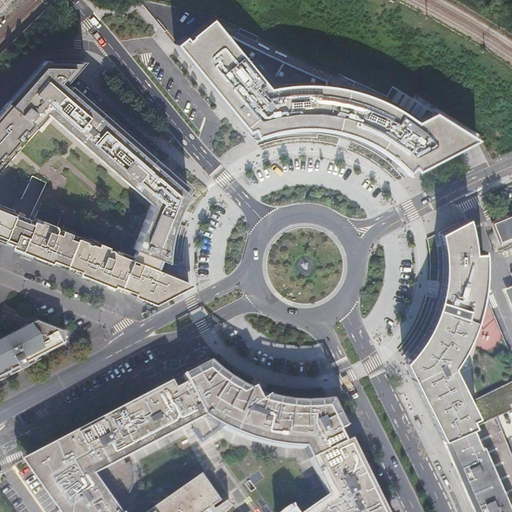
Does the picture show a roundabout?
Yes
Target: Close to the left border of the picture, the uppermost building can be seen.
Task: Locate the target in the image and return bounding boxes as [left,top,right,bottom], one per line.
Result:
[0,62,184,254]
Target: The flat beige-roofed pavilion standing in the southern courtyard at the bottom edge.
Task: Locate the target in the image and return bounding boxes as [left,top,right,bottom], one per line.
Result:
[152,473,233,512]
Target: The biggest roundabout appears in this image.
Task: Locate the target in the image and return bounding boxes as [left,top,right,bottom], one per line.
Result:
[245,205,366,326]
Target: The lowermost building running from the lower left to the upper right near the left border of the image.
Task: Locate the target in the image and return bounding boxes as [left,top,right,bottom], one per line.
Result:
[0,320,68,384]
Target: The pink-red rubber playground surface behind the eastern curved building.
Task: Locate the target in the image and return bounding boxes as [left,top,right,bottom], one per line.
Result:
[476,298,502,349]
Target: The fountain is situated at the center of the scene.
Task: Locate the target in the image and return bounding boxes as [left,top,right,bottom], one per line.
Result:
[296,256,314,275]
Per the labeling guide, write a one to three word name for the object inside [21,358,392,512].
building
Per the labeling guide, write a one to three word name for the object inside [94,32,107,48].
vehicle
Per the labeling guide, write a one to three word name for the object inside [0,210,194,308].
building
